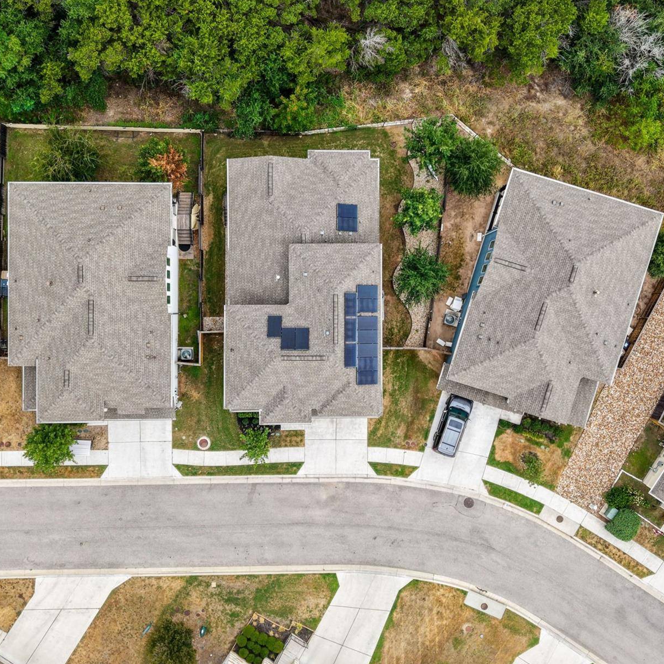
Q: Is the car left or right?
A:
right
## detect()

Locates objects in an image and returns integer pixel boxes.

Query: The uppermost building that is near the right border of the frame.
[436,168,663,428]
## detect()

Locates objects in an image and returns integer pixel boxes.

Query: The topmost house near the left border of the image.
[7,176,182,425]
